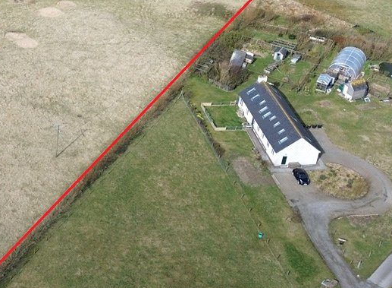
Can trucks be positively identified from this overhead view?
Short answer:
No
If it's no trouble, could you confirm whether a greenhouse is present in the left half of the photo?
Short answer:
No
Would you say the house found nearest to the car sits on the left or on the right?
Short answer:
right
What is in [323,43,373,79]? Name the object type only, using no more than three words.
greenhouse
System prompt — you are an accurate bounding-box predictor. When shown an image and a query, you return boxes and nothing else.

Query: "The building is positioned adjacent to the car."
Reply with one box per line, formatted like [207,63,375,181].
[239,77,321,171]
